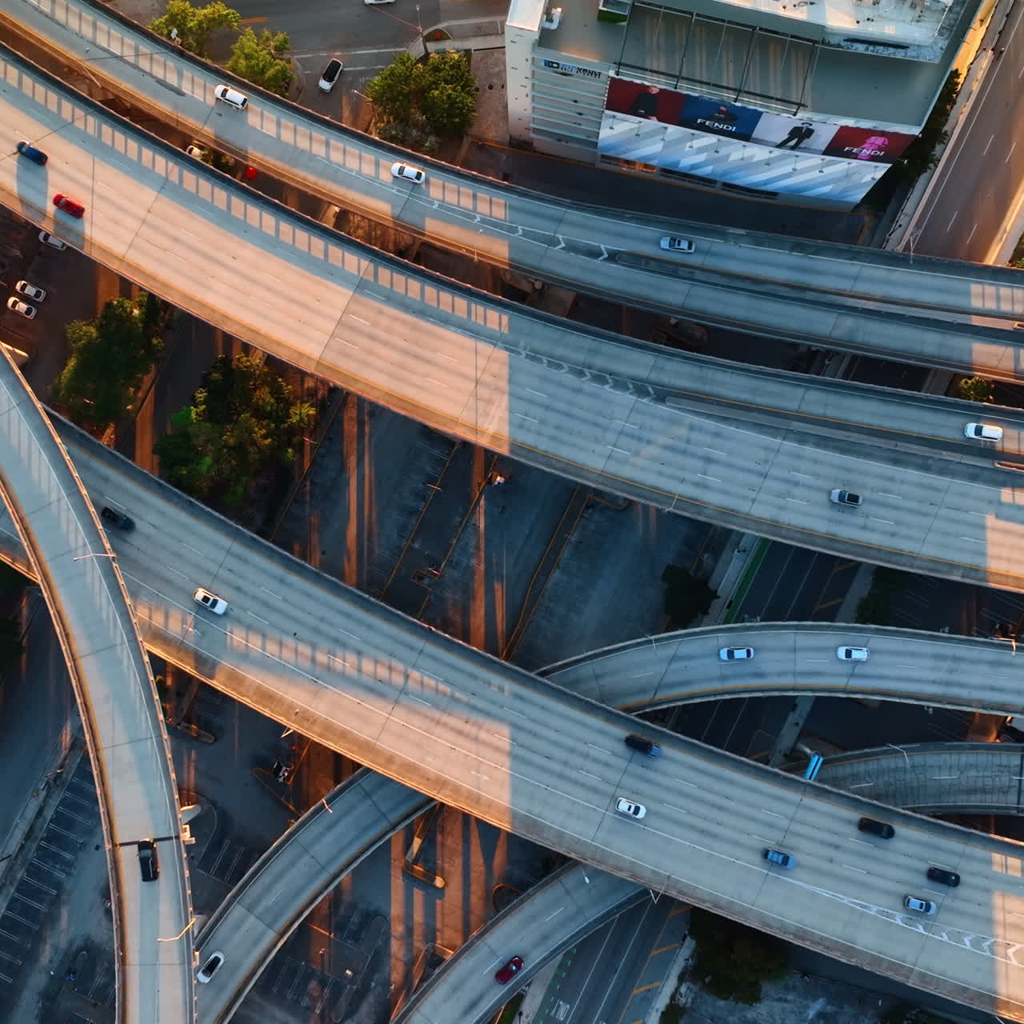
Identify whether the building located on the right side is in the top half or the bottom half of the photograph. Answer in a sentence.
You can find the building located on the right side in the top half.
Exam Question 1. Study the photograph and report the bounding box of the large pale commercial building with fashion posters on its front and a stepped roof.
[507,0,988,213]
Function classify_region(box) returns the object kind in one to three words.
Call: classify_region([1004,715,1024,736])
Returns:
car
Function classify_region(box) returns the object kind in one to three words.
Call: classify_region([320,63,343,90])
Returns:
car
